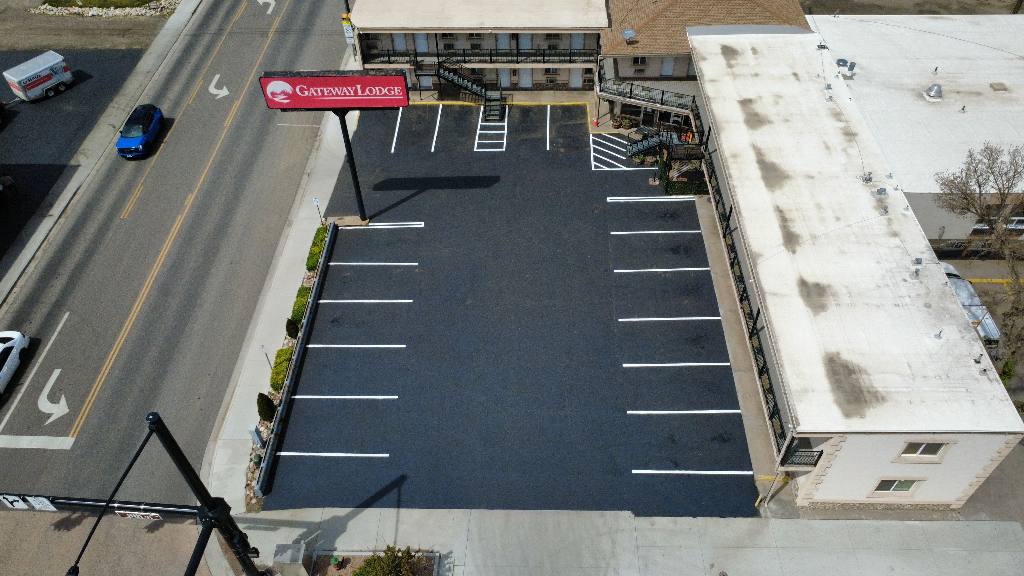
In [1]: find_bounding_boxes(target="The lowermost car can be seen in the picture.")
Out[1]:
[0,334,27,401]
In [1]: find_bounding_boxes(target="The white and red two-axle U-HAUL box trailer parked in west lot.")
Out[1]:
[3,53,71,104]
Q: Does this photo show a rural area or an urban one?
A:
urban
